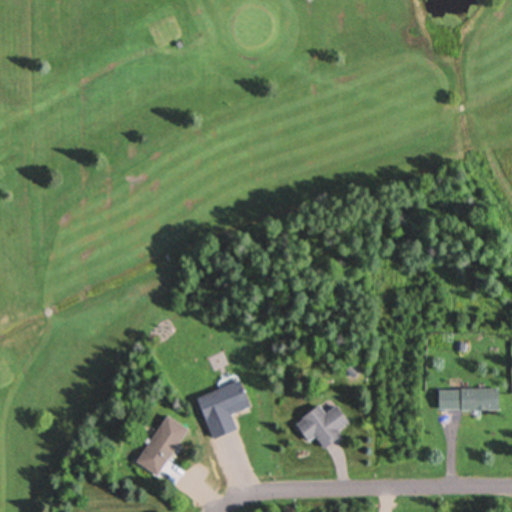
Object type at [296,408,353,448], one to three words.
house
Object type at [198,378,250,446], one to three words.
house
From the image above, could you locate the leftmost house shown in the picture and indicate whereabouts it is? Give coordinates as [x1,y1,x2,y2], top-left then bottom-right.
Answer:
[136,416,188,476]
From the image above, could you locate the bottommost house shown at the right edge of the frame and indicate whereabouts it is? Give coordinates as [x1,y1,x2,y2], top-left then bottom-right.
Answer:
[439,378,501,412]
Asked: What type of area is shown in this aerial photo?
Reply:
golf course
